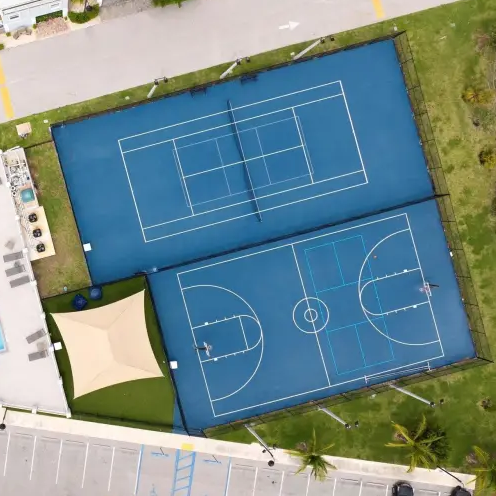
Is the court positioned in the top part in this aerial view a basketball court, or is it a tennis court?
tennis court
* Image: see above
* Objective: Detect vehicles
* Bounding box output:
[390,481,411,496]
[446,486,472,496]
